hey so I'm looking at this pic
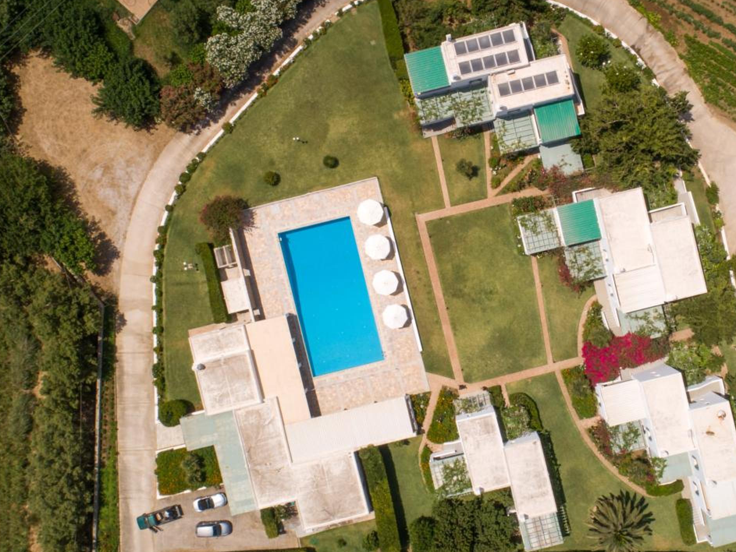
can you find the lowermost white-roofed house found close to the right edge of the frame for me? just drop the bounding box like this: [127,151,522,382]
[593,358,736,547]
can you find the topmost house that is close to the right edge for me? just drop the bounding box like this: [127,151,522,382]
[551,179,707,336]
